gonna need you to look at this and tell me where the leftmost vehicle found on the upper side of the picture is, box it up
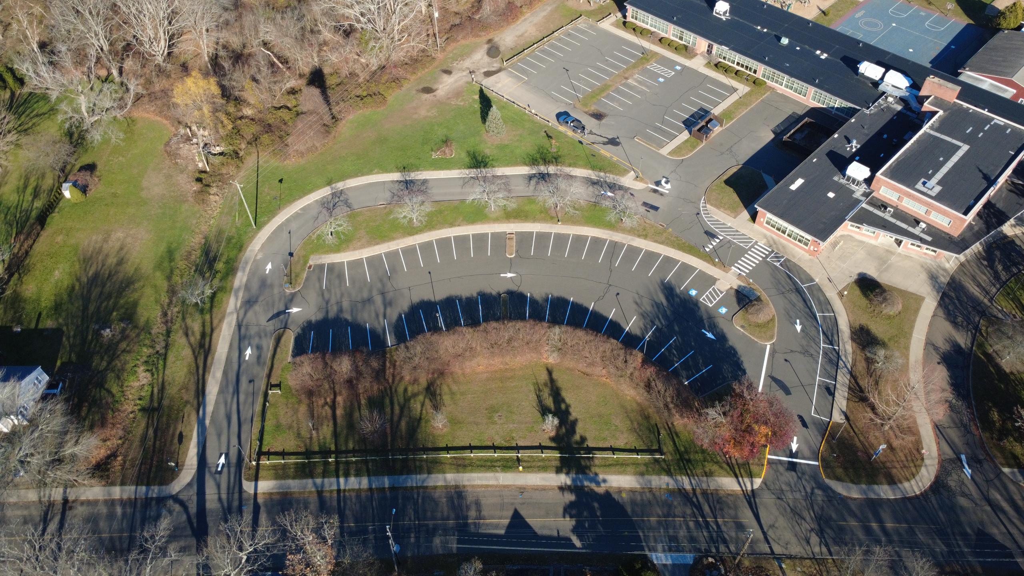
[555,115,588,134]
